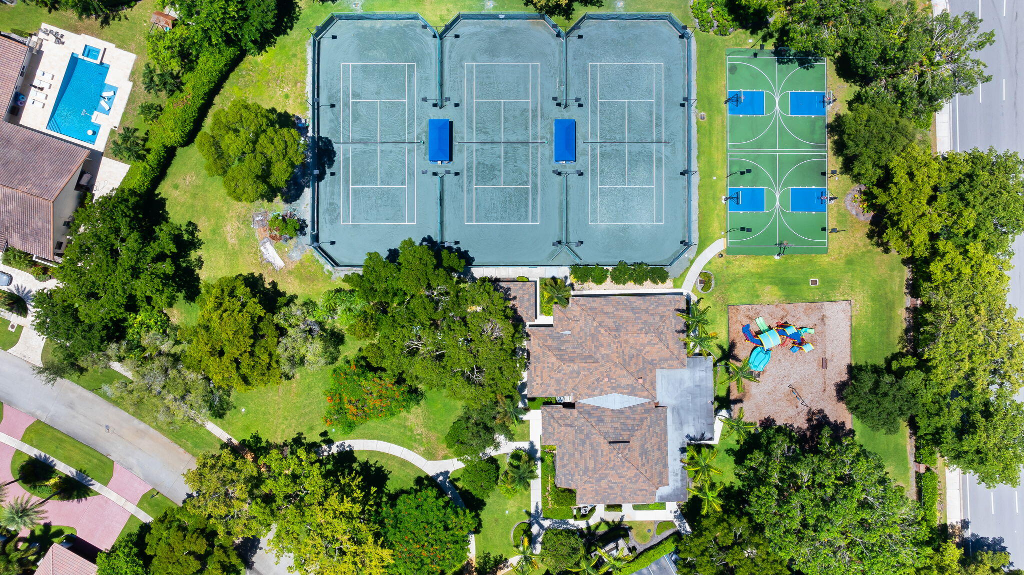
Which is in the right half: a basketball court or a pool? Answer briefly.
basketball court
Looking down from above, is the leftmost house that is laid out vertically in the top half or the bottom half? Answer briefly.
top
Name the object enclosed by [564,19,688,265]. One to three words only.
tennis court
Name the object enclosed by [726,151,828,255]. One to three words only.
basketball court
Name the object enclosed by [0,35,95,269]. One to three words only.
house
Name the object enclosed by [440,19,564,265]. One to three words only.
tennis court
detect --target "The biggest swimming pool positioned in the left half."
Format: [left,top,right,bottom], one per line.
[46,52,118,144]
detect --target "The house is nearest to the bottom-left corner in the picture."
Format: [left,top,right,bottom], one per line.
[37,541,104,575]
